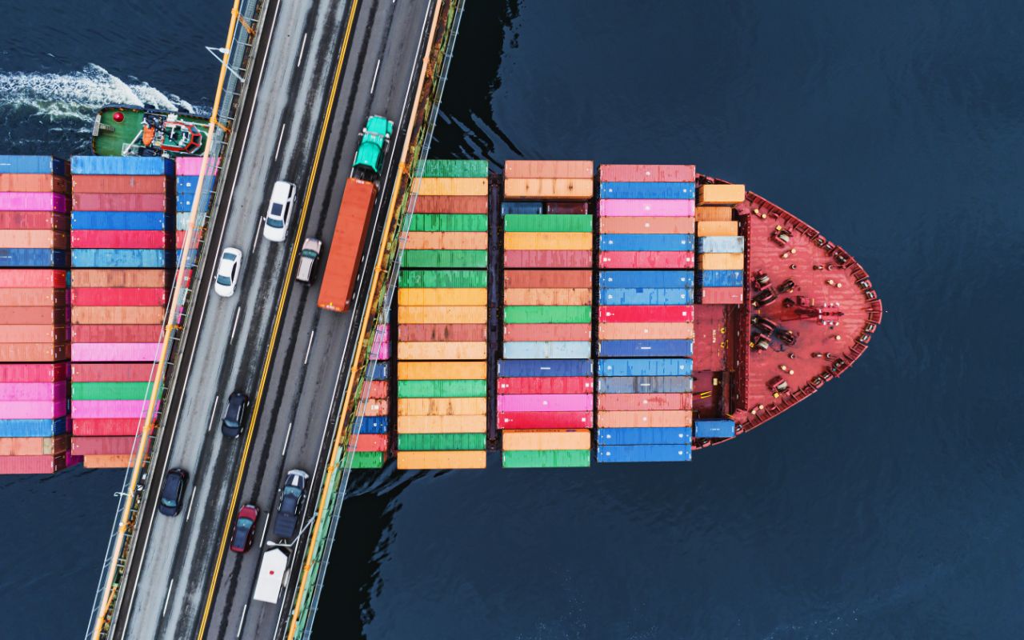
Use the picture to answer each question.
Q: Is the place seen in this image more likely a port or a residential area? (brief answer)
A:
port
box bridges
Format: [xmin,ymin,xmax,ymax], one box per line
[88,0,467,640]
